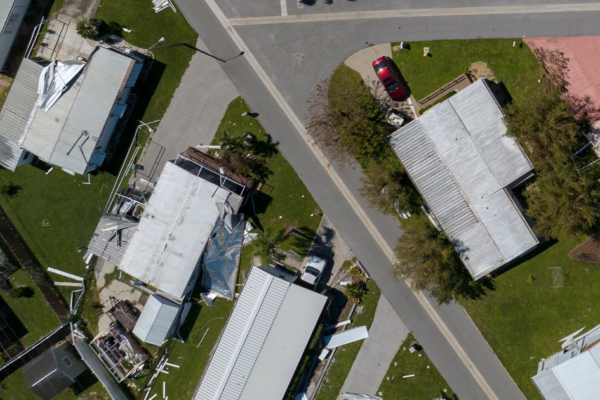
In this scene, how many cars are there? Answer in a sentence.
There are 2 cars in the image.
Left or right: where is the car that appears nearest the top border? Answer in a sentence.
You can find the car that appears nearest the top border on the right side of the picture.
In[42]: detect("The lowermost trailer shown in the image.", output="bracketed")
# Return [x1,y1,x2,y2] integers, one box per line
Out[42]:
[107,299,140,333]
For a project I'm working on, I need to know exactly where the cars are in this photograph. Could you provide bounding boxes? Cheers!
[371,54,411,104]
[295,252,324,287]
